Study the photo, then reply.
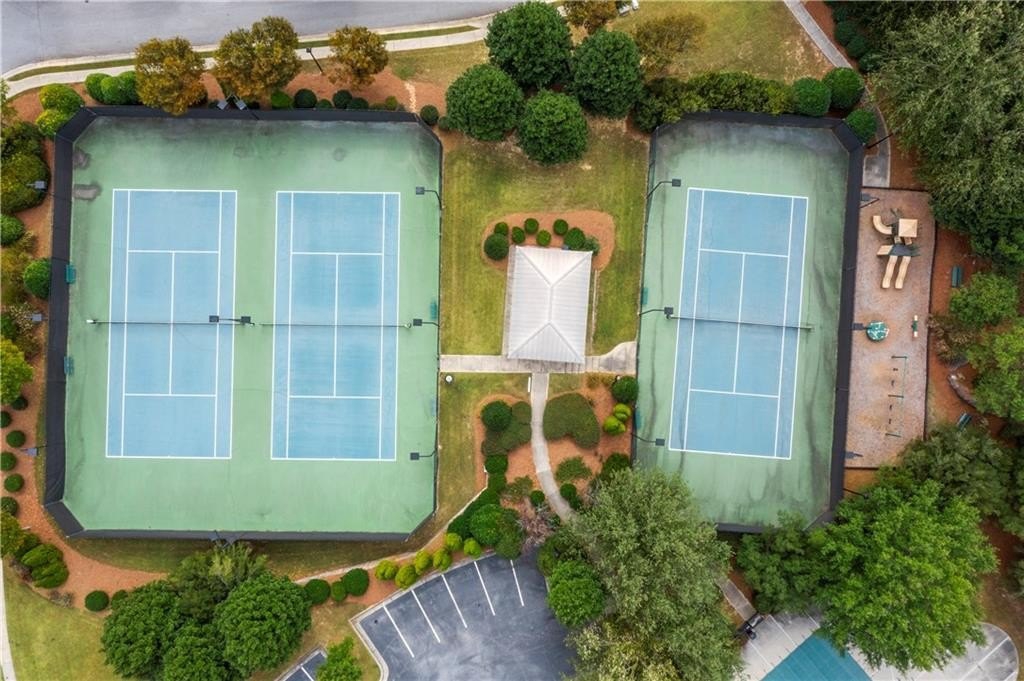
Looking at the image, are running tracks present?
No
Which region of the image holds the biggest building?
center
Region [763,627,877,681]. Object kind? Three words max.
swimming pool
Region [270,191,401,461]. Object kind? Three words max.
tennis court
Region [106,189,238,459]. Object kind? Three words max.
tennis court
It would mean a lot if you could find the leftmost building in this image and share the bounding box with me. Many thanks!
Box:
[508,245,593,363]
